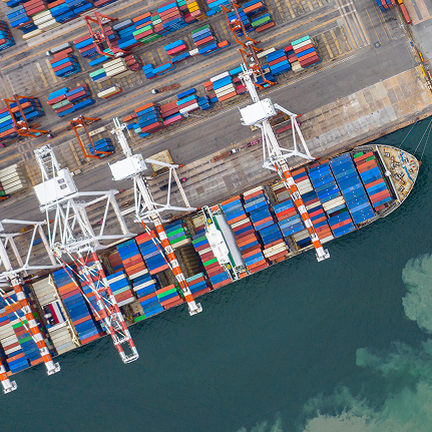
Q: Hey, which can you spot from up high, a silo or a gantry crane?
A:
gantry crane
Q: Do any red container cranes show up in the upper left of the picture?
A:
Yes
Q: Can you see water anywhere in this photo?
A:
Yes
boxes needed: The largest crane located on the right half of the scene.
[234,60,330,265]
